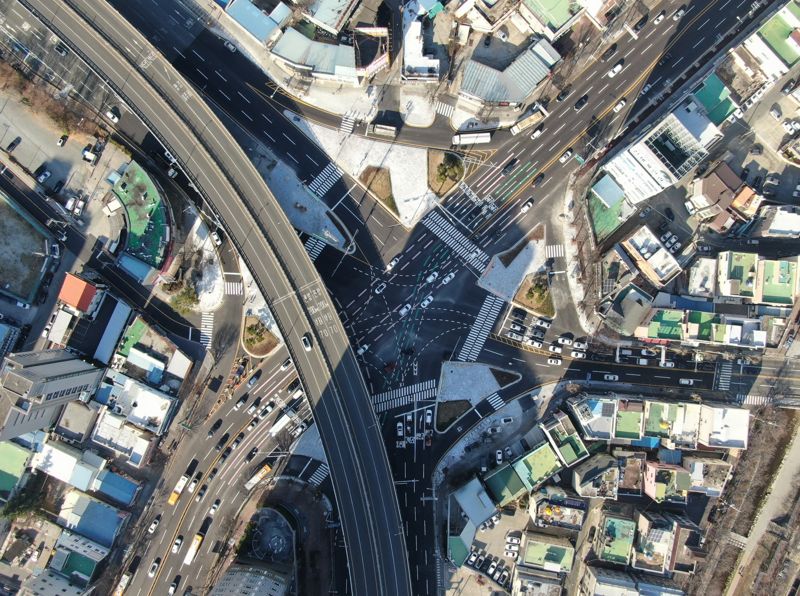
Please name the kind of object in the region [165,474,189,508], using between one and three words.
bus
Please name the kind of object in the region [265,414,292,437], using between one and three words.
truck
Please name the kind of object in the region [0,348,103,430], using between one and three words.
building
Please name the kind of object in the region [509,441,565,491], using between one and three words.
house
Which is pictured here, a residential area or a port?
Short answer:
residential area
